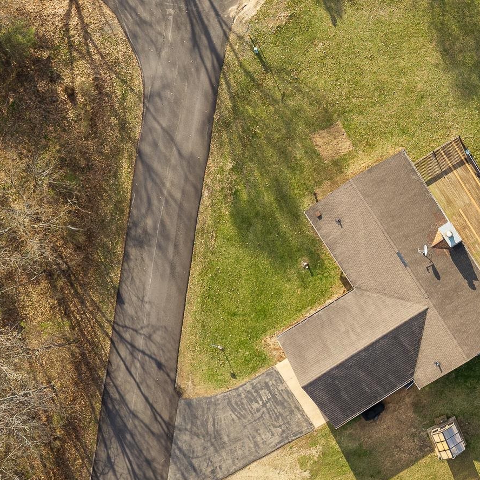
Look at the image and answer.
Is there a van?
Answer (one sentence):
No, the frame has no van in it.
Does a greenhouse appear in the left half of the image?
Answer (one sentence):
No, the scene shows no greenhouse in the left half of the image.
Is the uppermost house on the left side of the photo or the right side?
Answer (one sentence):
It is on the right.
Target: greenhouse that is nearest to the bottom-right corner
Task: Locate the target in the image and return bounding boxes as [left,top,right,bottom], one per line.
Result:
[429,413,471,460]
